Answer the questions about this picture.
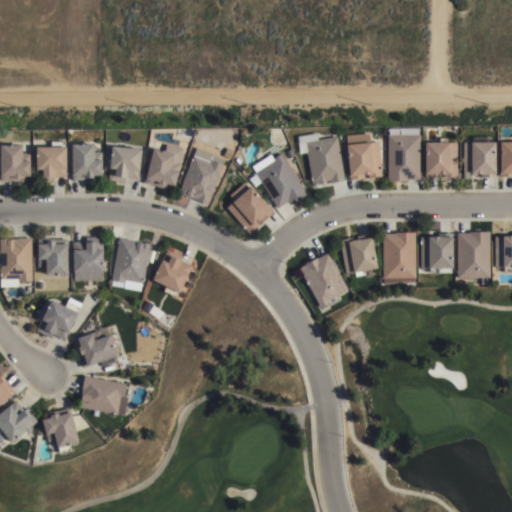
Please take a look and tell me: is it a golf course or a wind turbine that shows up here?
golf course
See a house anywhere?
Yes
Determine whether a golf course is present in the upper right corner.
No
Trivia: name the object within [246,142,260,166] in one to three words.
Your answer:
swimming pool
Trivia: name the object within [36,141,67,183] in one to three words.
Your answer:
house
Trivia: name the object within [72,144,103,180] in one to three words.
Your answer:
house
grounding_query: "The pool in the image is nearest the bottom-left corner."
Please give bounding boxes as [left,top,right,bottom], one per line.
[38,439,53,461]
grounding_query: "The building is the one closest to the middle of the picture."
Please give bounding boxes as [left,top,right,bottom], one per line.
[228,183,272,230]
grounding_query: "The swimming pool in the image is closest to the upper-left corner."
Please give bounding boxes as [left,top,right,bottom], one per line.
[154,132,180,144]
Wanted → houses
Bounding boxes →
[300,254,348,312]
[464,137,498,177]
[76,330,119,364]
[342,238,379,278]
[458,232,492,284]
[383,236,416,284]
[420,236,455,274]
[228,183,272,230]
[0,144,32,182]
[426,142,458,178]
[184,149,227,204]
[348,134,384,182]
[388,128,422,182]
[0,238,32,288]
[496,236,512,272]
[72,144,103,180]
[112,238,150,292]
[108,147,142,184]
[82,376,127,416]
[37,298,82,340]
[38,239,69,276]
[502,142,512,178]
[72,236,108,281]
[298,134,344,183]
[0,400,35,444]
[249,154,306,207]
[154,248,196,297]
[146,142,183,186]
[40,410,81,454]
[36,141,67,183]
